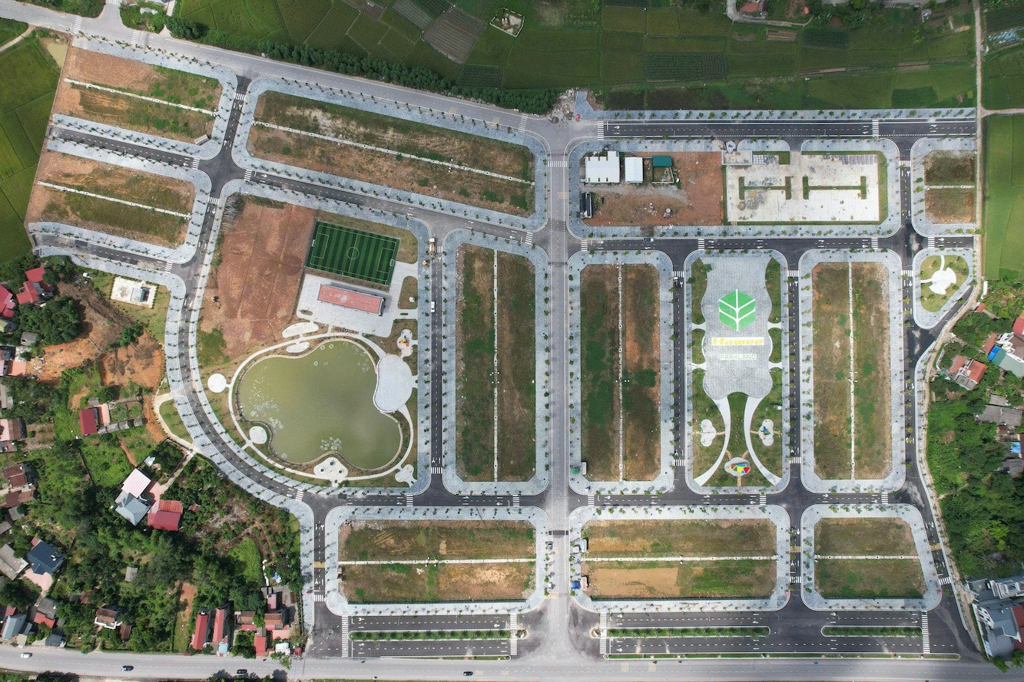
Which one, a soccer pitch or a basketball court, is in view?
soccer pitch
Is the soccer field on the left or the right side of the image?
left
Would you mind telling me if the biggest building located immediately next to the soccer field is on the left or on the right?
left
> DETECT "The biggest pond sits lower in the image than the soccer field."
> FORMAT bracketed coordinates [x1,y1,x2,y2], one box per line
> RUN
[238,340,400,469]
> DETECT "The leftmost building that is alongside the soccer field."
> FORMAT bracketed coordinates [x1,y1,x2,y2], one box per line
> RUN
[318,285,383,313]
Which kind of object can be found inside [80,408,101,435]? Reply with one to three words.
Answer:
house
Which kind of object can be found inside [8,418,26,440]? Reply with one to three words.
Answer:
house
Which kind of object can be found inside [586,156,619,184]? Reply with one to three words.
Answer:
building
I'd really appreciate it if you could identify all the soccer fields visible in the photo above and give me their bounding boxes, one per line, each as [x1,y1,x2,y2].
[304,220,400,286]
